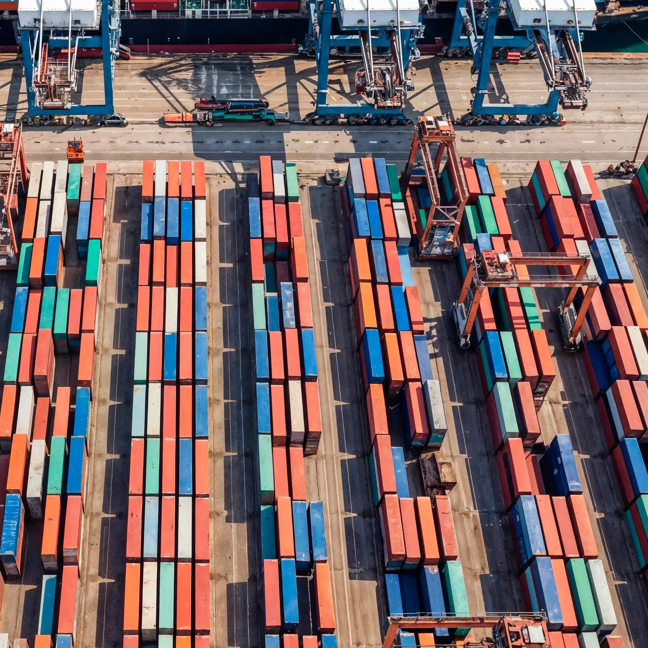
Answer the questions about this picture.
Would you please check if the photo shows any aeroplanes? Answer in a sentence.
No, no aeroplane can be seen from above.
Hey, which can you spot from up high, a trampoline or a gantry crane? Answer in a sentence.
Looking from above, you can make out a gantry crane.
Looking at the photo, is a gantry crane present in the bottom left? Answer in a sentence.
No, no gantry crane is visible in the bottom left.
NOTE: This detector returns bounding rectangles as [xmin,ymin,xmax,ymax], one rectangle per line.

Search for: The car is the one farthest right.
[325,171,338,186]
